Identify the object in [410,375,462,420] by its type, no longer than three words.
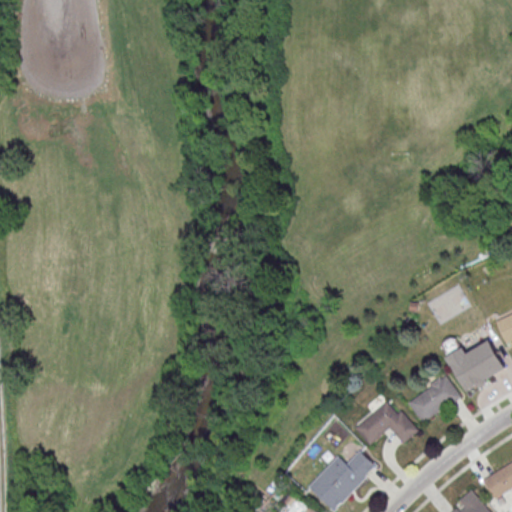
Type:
house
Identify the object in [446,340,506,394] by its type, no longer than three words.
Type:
house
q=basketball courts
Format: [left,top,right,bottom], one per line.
[428,284,472,325]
